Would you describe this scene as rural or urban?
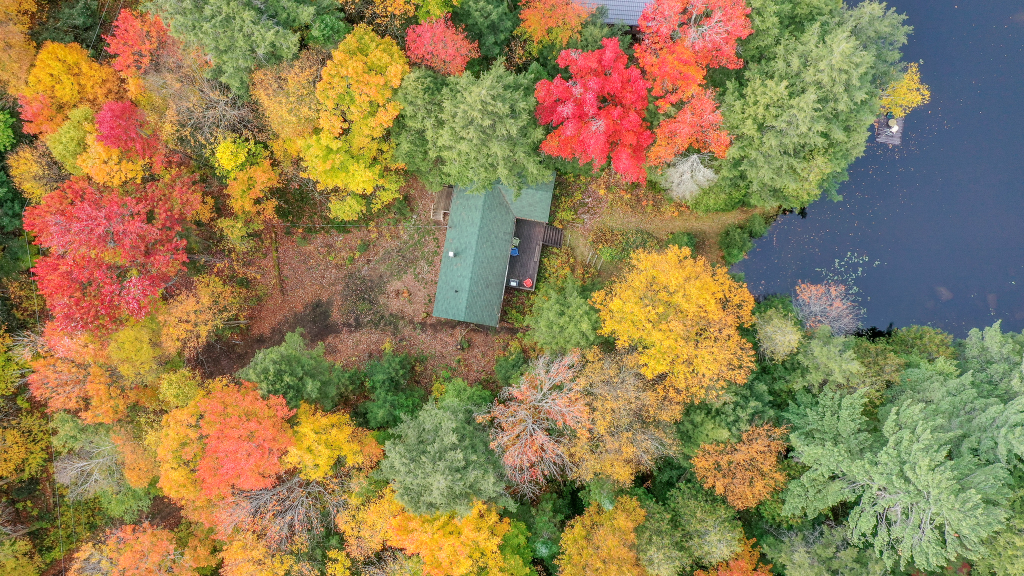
rural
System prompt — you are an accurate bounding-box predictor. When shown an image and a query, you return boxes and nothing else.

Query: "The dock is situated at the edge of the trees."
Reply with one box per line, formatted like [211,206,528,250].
[873,105,905,145]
